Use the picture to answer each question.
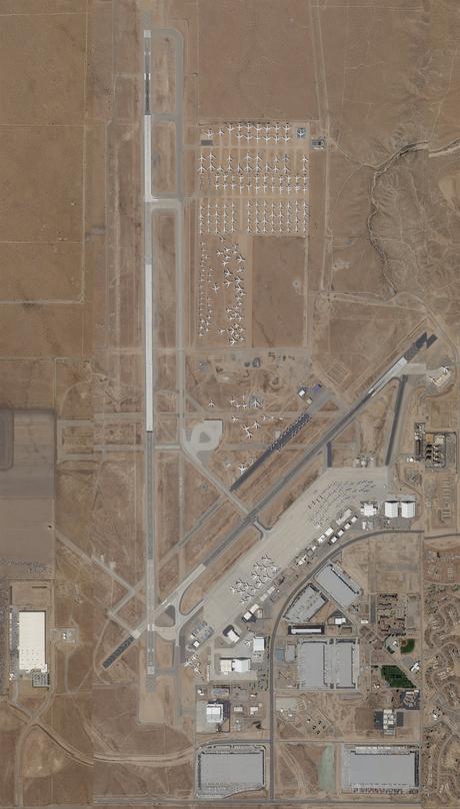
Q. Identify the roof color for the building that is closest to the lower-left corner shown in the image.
white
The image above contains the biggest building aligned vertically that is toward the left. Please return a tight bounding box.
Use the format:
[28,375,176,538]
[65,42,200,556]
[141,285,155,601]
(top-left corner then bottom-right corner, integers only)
[20,612,47,672]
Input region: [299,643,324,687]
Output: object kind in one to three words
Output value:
building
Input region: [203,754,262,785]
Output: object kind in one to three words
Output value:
building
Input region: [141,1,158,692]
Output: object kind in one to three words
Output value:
runway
